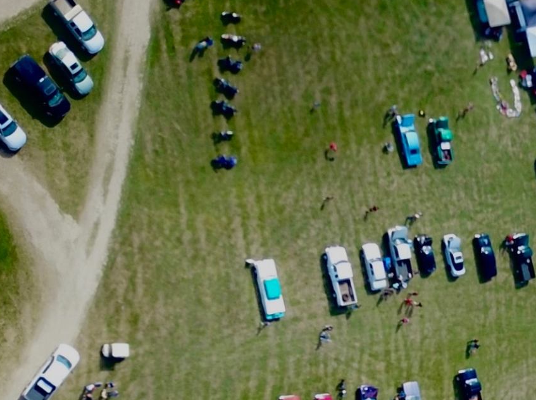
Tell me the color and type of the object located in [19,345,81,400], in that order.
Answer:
white truck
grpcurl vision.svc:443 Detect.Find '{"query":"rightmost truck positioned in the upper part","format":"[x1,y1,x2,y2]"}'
[429,118,454,166]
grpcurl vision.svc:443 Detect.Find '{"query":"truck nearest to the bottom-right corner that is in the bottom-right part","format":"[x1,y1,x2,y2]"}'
[455,367,483,400]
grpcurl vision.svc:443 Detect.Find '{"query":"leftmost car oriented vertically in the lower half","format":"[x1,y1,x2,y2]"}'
[250,253,286,325]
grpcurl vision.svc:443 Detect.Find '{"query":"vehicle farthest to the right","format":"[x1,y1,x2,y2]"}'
[511,235,536,287]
